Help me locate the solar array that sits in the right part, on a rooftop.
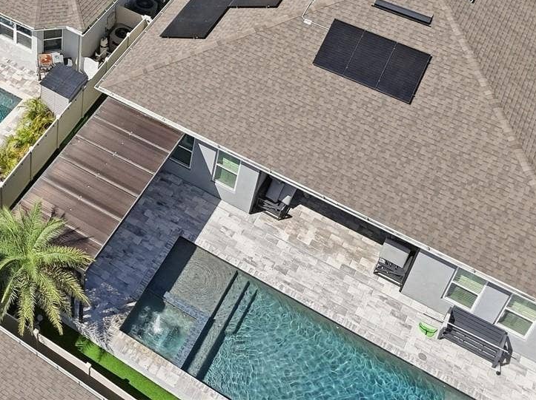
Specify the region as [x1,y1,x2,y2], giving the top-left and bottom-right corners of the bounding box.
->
[311,20,431,104]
